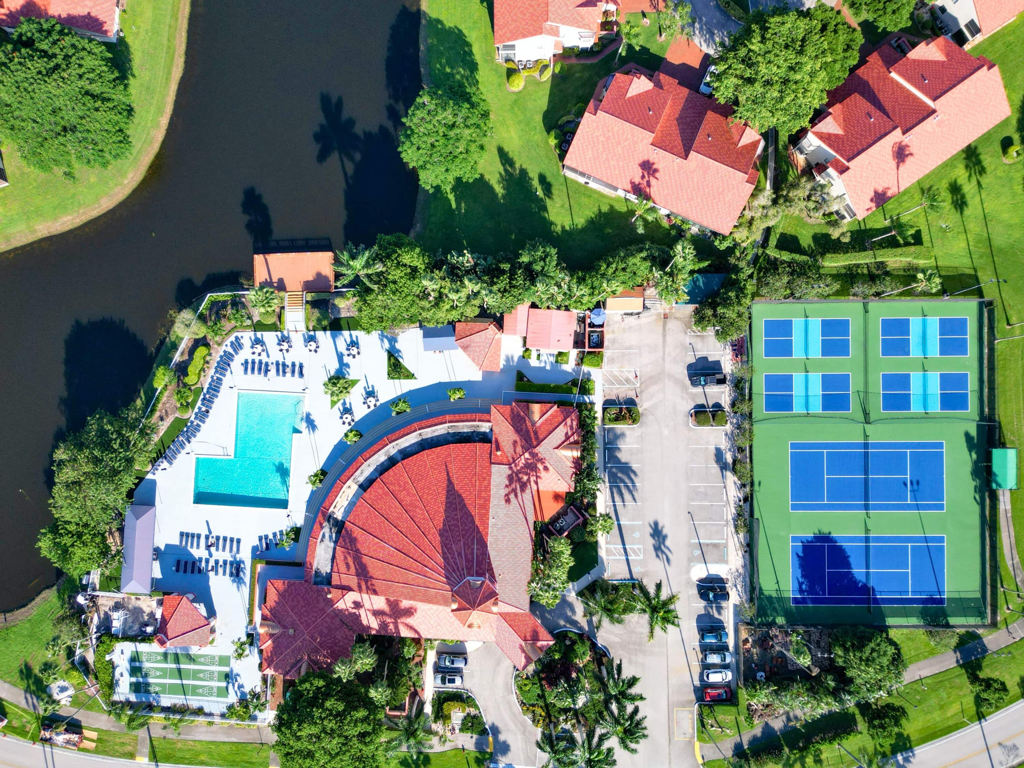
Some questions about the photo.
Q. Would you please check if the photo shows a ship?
No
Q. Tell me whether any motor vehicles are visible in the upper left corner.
No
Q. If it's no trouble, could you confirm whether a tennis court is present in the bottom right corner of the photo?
Yes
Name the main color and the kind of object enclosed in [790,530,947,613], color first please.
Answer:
blue tennis court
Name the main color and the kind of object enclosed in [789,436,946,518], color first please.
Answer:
blue tennis court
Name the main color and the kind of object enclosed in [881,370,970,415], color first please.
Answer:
blue sports court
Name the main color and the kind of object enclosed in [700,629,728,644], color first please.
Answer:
blue car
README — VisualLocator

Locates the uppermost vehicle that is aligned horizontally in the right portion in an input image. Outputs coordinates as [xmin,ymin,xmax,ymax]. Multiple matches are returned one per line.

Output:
[690,373,726,388]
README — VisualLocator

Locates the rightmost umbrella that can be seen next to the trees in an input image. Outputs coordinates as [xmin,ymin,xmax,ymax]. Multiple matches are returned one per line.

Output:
[591,309,606,324]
